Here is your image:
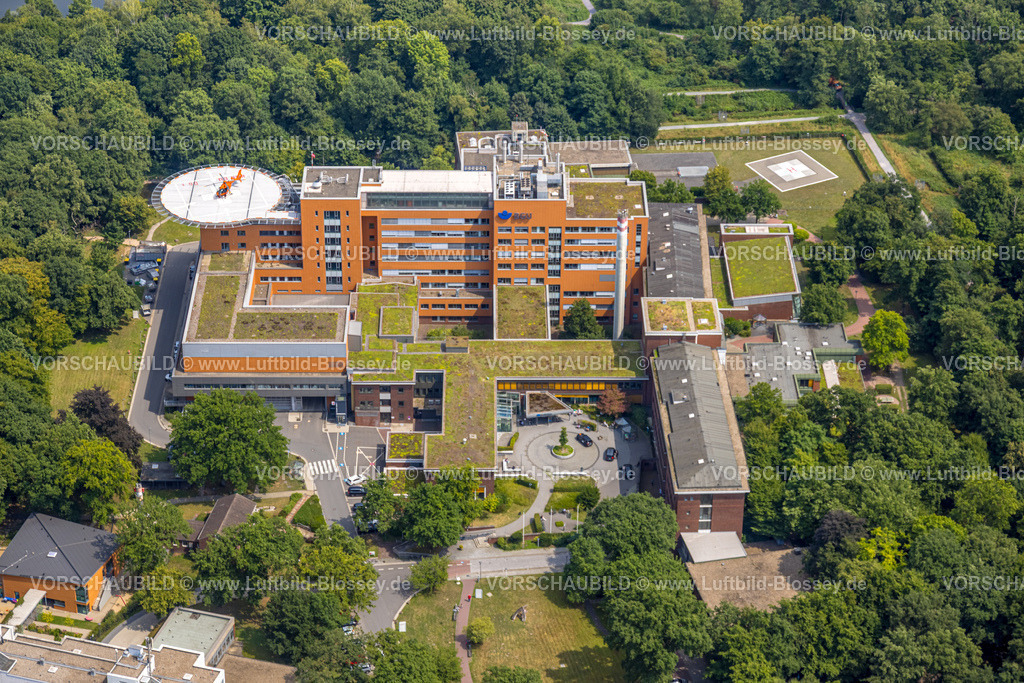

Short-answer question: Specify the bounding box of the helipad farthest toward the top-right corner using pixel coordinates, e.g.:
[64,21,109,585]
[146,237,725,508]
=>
[745,150,839,192]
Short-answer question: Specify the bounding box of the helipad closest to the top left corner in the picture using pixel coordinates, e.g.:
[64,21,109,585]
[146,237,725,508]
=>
[148,161,303,230]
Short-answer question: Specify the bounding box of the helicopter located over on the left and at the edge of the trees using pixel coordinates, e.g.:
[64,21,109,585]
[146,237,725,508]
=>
[204,164,249,197]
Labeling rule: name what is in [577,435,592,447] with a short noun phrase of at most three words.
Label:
vehicle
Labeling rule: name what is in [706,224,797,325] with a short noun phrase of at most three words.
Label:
building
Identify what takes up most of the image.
trees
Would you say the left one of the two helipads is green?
No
